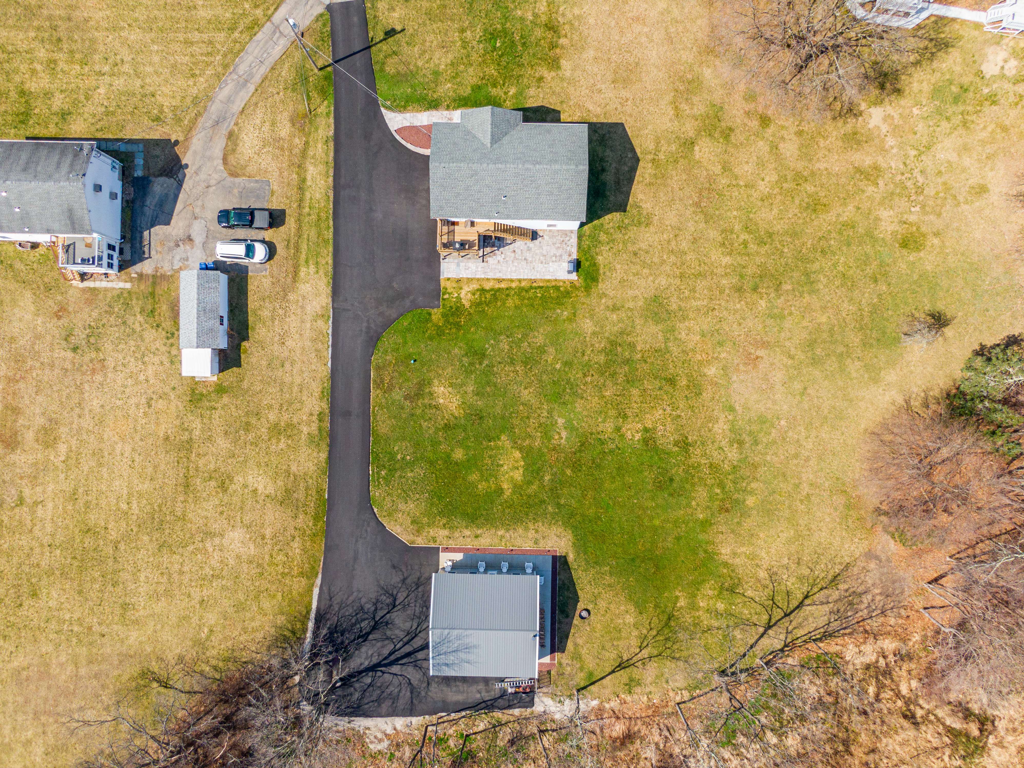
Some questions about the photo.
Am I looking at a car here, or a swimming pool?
car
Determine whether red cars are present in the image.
No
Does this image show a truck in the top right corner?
No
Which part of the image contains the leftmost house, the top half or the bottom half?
top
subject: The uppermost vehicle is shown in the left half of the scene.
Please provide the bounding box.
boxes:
[217,206,276,232]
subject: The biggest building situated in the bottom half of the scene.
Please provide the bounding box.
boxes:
[430,568,539,678]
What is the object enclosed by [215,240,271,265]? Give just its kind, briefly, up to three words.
car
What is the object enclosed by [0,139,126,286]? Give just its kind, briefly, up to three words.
house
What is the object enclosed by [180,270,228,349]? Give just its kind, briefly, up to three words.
shed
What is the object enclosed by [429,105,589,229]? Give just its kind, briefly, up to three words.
house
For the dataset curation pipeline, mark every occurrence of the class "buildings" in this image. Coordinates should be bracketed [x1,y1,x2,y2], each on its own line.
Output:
[0,139,126,286]
[180,270,228,349]
[430,568,539,678]
[429,105,589,229]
